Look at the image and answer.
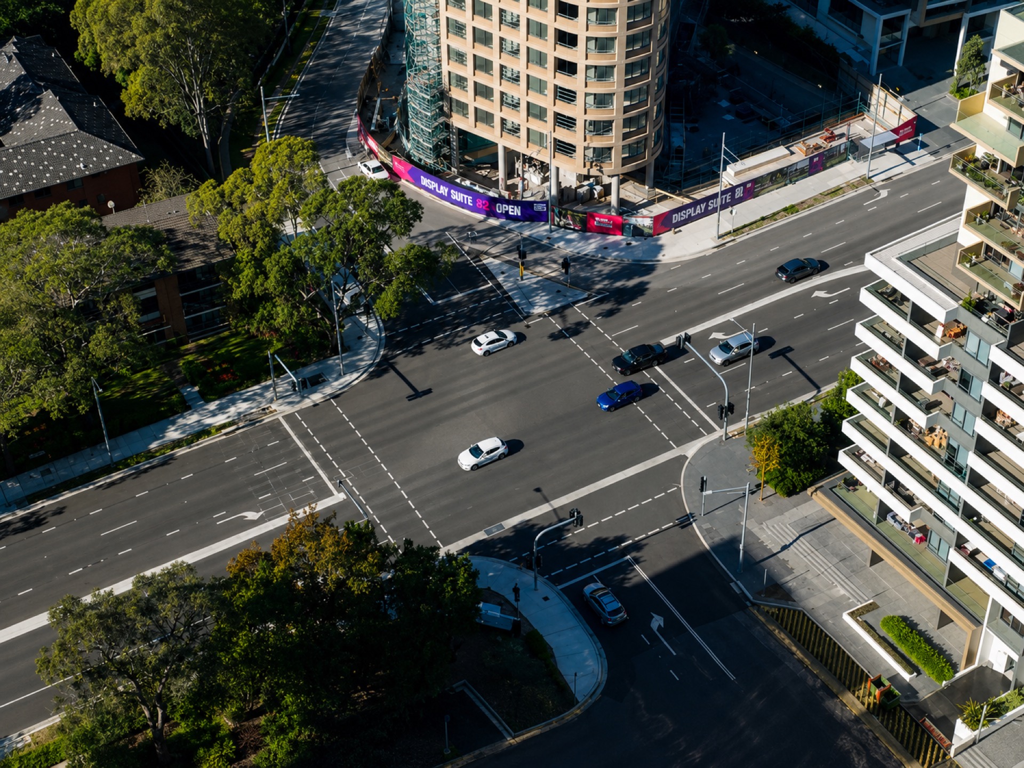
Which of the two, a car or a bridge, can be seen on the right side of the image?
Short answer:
car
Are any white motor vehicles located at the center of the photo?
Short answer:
Yes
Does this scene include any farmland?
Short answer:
No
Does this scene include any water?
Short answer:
No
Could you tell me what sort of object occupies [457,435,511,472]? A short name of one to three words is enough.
car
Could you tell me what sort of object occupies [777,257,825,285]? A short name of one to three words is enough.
car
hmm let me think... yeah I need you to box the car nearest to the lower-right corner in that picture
[580,581,630,629]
